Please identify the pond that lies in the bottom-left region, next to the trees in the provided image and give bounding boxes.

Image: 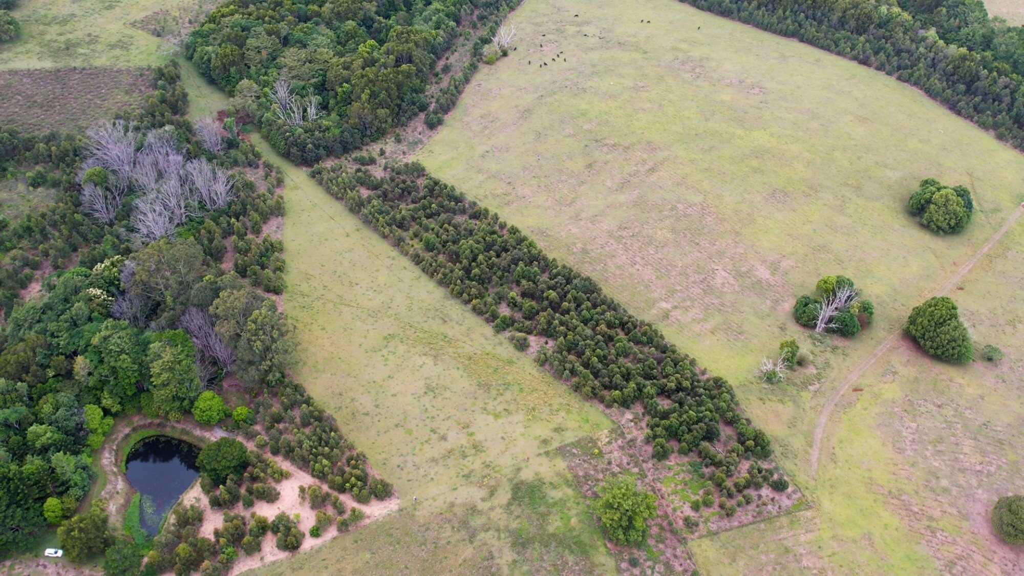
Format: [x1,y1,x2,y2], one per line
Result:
[124,434,204,534]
